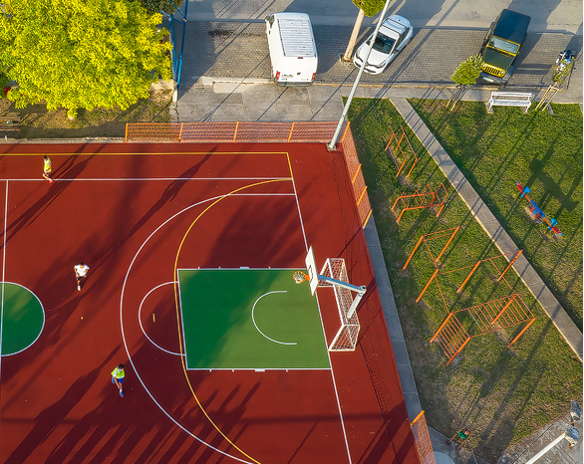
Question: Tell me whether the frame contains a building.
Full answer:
No, the scene contains no building.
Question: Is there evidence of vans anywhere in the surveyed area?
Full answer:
Yes, this view includes a van.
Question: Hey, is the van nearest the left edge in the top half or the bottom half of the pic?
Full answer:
Seen from above, the van nearest the left edge lies in the top half of the view.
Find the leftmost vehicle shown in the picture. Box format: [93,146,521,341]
[269,5,323,83]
